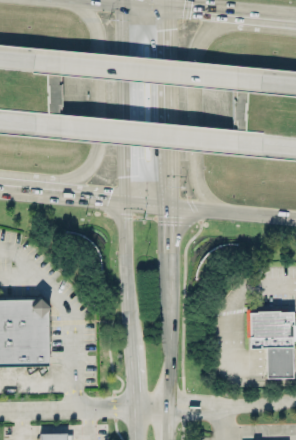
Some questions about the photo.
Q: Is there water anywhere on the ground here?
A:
No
